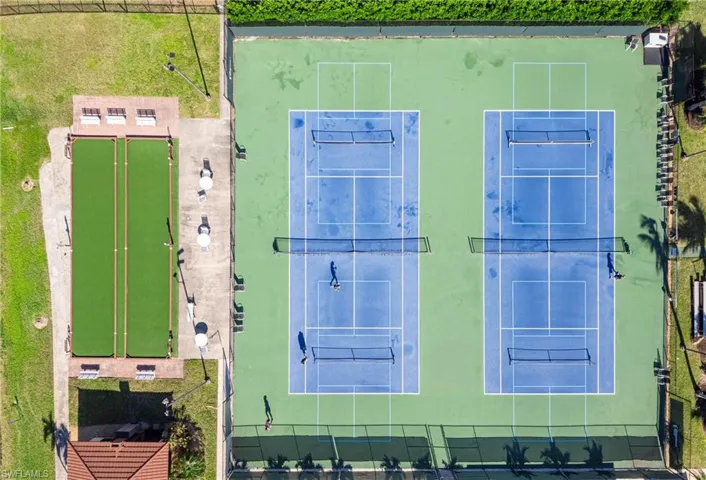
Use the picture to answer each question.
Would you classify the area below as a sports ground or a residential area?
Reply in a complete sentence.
The picture captures a sports ground.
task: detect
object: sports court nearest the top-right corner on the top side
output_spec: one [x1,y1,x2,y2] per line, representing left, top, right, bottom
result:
[513,63,586,223]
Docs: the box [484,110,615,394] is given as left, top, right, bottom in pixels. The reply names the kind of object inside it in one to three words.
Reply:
tennis court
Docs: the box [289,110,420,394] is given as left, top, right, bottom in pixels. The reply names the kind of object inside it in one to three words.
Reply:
tennis court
